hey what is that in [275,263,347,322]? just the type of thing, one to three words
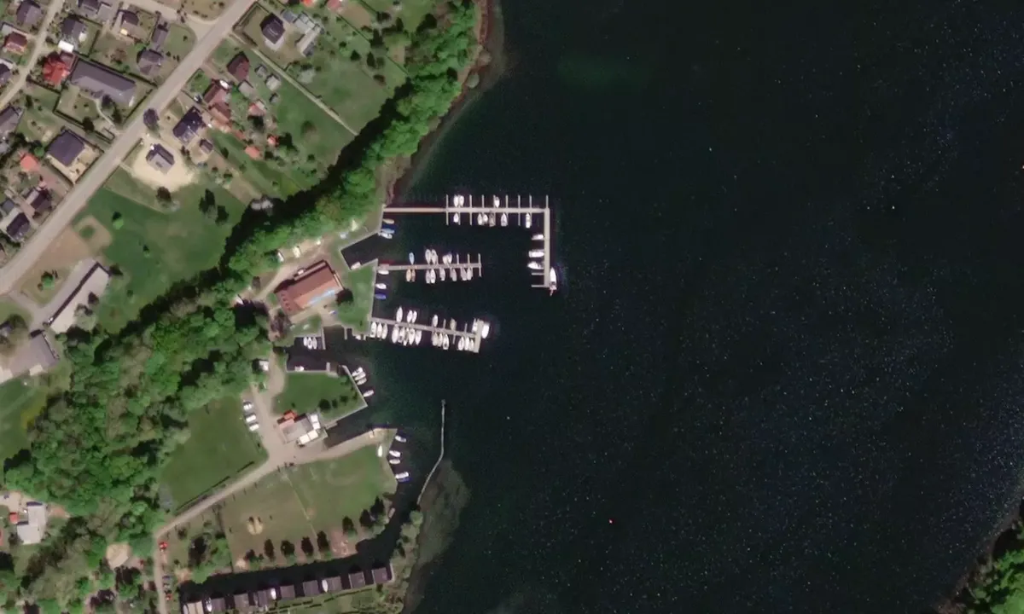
building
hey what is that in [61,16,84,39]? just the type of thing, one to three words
house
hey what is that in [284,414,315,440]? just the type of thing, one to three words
building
